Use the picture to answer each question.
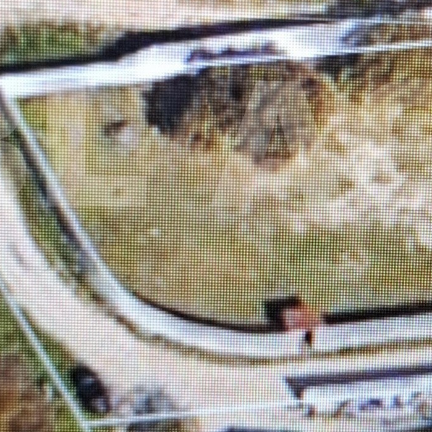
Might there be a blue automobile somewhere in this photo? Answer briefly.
No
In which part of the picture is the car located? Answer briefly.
bottom left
